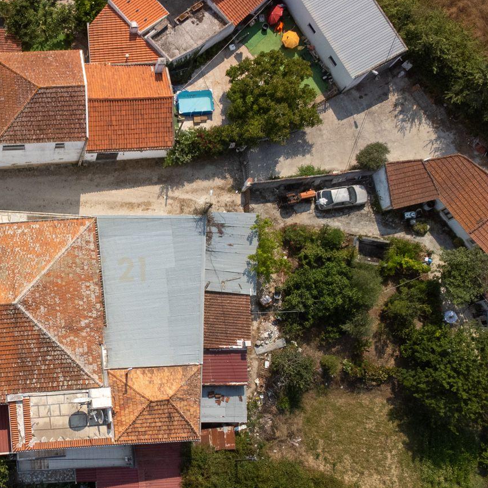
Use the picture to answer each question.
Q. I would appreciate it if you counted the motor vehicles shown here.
2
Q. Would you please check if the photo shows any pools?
Yes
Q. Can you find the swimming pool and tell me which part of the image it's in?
top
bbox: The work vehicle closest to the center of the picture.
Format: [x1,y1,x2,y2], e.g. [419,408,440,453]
[279,188,316,209]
